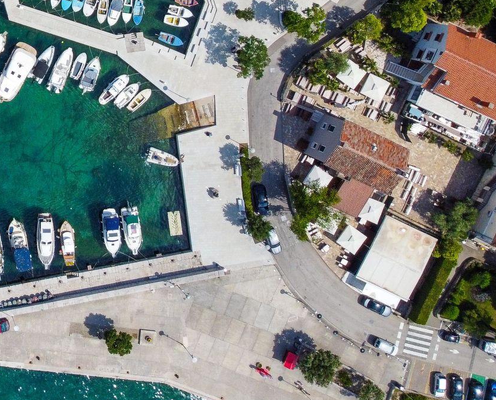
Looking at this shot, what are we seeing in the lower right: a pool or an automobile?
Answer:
automobile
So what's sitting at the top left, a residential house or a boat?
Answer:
boat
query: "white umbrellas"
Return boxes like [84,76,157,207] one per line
[360,74,390,101]
[337,61,366,88]
[303,165,333,189]
[358,198,385,221]
[337,224,366,254]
